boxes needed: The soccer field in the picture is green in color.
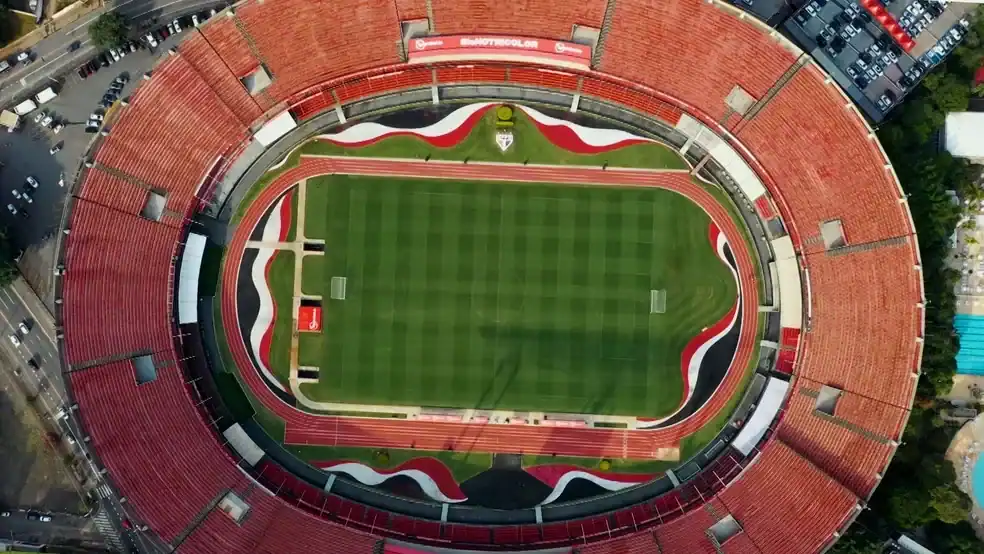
[236,174,742,428]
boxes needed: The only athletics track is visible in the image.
[221,153,758,462]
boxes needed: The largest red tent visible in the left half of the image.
[298,305,324,331]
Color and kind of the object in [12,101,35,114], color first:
white vehicle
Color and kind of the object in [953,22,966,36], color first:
black vehicle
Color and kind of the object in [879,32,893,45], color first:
black vehicle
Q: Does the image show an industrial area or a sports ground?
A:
sports ground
